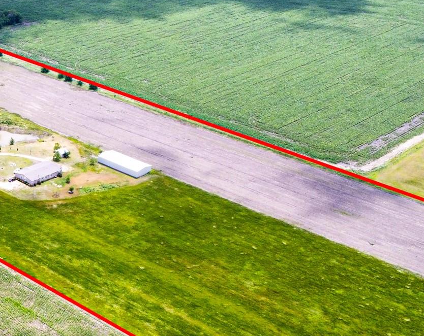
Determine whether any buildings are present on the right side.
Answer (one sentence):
No, I see no building on the right side.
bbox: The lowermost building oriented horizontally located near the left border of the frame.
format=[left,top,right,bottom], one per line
[10,158,64,185]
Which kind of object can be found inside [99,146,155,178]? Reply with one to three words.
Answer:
barn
